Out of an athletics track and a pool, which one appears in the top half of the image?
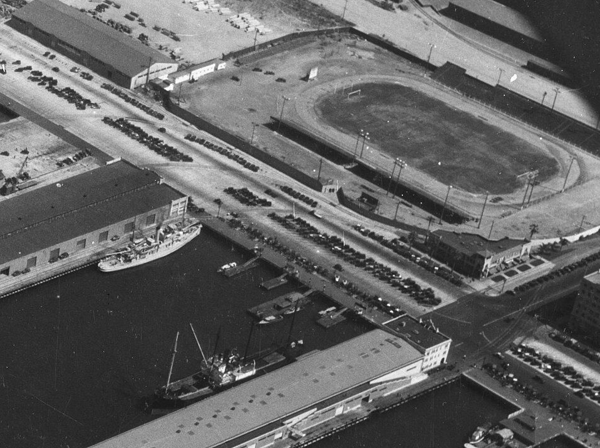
athletics track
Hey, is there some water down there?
Yes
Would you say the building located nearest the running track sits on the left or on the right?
right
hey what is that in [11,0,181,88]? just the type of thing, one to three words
building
